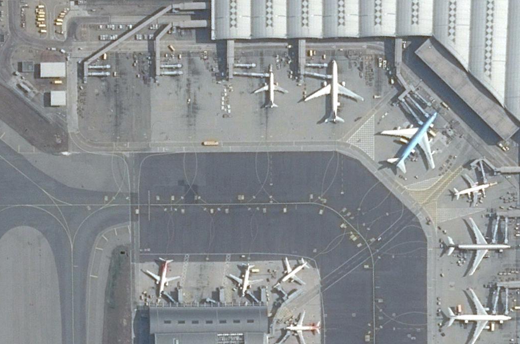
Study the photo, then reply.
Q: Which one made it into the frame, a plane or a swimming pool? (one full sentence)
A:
This aerial view contains a plane.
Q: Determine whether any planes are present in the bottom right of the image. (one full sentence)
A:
Yes, a plane is visible in the bottom right of the image.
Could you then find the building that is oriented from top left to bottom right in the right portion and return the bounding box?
[415,37,520,144]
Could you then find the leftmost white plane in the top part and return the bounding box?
[255,65,288,107]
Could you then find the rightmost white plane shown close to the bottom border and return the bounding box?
[449,289,511,344]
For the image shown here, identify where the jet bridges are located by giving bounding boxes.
[160,70,184,76]
[88,63,111,70]
[206,297,218,304]
[278,285,290,299]
[277,331,290,344]
[305,70,333,79]
[88,71,111,77]
[246,291,261,304]
[481,163,489,183]
[503,287,509,315]
[401,98,422,124]
[492,216,501,243]
[413,88,431,106]
[160,62,184,69]
[492,287,501,315]
[406,92,429,117]
[161,292,178,304]
[305,62,328,69]
[234,70,269,78]
[234,62,257,68]
[503,216,509,244]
